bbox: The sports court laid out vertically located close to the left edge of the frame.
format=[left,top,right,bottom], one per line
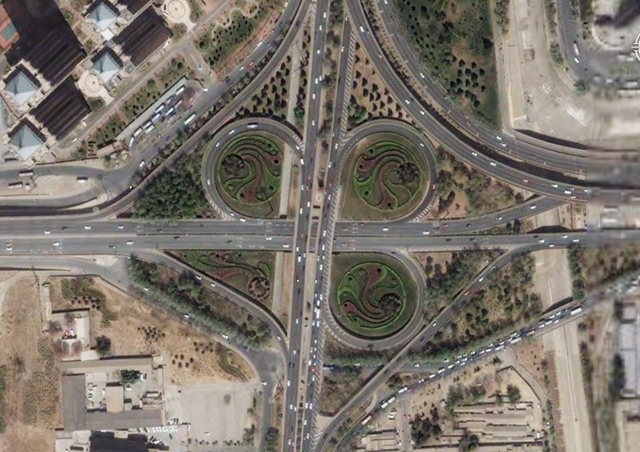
[0,3,20,50]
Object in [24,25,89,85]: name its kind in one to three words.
building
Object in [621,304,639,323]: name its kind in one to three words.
building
